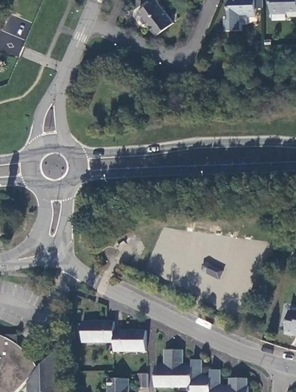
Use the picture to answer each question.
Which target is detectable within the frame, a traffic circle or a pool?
traffic circle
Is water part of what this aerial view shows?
No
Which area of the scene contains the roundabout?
left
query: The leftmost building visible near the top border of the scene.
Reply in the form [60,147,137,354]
[136,0,175,36]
